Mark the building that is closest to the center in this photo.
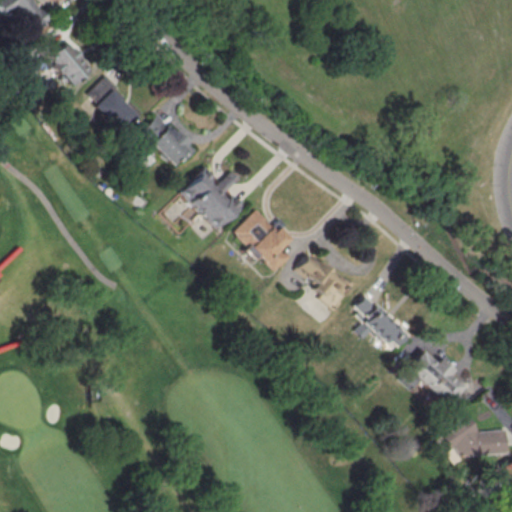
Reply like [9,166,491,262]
[232,209,296,272]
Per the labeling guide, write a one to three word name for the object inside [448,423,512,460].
house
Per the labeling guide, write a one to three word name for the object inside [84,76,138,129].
house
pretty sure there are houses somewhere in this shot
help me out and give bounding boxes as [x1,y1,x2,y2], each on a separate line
[177,166,244,230]
[148,116,196,166]
[448,423,512,460]
[0,0,45,22]
[84,76,138,129]
[232,209,296,272]
[413,350,473,399]
[353,298,413,352]
[294,256,353,306]
[52,40,96,90]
